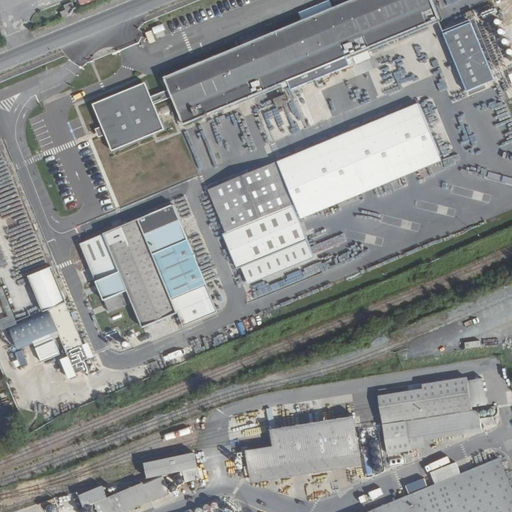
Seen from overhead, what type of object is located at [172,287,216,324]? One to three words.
building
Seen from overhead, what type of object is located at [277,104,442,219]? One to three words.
building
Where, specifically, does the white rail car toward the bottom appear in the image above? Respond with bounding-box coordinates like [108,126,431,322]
[162,427,192,440]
